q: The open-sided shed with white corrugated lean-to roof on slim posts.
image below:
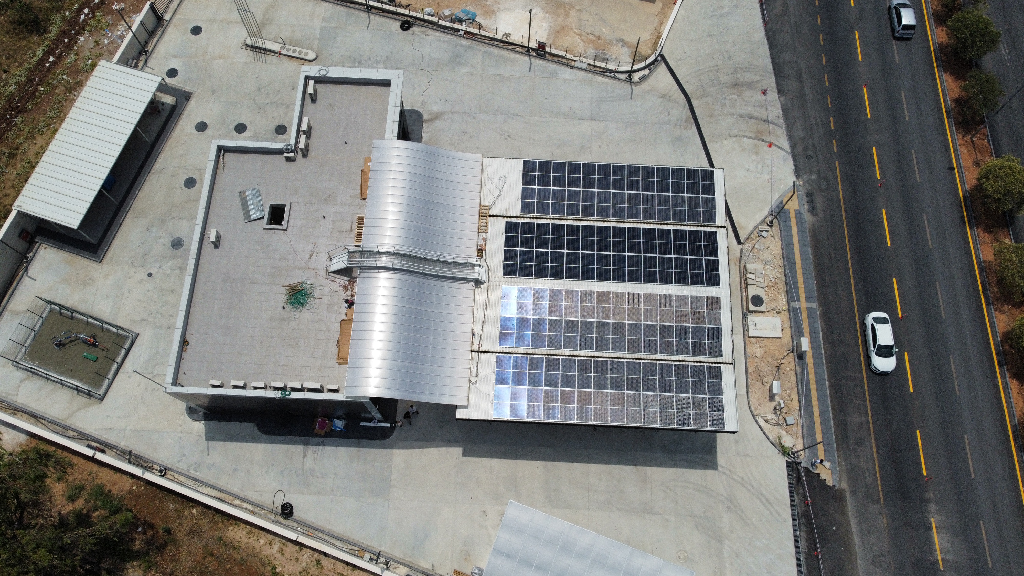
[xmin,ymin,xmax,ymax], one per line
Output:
[12,60,172,244]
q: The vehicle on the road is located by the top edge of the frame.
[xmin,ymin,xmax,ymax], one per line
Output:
[890,0,921,35]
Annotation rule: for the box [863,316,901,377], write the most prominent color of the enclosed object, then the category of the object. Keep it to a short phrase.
white car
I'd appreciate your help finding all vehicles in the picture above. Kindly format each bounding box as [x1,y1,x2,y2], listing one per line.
[863,316,901,377]
[890,0,921,35]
